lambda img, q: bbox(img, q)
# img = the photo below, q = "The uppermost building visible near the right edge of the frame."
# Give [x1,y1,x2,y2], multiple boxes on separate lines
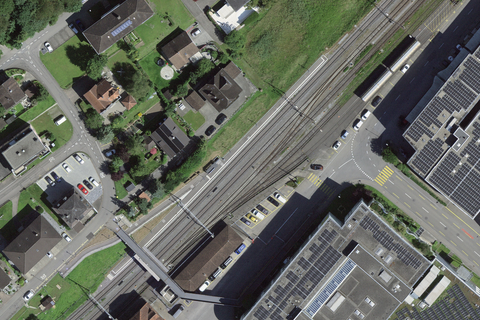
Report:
[401,42,480,218]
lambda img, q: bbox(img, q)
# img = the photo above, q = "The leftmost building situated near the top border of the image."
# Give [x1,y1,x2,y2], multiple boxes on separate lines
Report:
[82,0,155,54]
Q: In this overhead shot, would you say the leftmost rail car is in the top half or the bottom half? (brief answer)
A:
top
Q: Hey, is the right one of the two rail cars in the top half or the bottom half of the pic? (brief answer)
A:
top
